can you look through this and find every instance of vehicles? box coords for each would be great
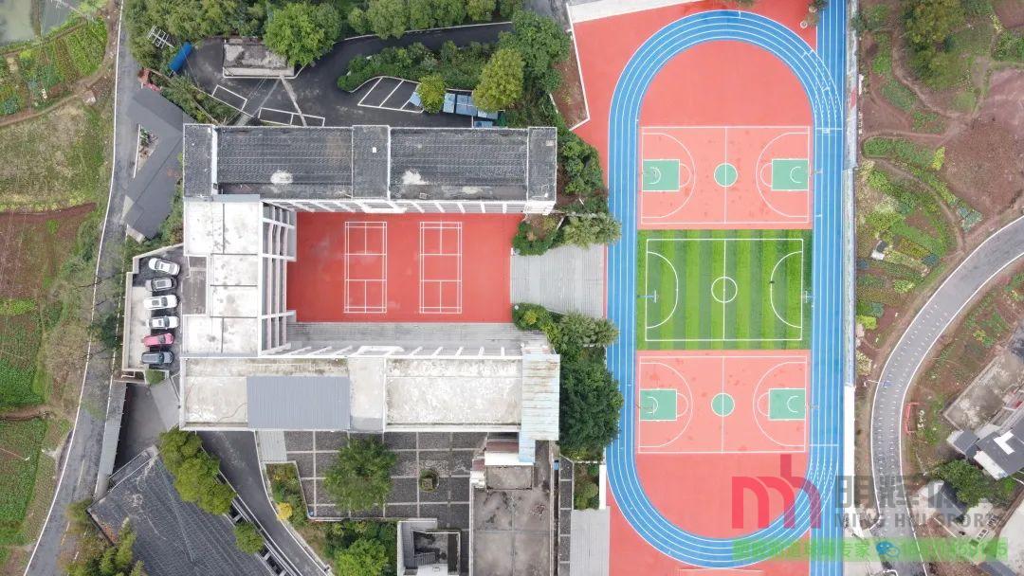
[142,332,175,348]
[143,294,179,310]
[141,350,175,366]
[148,258,182,276]
[146,277,178,292]
[146,315,180,330]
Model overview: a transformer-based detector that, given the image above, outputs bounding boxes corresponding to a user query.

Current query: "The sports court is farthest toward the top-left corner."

[345,222,387,313]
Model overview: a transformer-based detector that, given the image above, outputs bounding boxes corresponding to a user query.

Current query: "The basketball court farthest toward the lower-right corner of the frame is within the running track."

[635,350,811,454]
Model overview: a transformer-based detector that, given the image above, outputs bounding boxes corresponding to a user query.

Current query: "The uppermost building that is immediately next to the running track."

[183,124,556,215]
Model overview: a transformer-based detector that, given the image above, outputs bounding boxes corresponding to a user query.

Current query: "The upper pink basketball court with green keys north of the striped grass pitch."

[637,125,813,230]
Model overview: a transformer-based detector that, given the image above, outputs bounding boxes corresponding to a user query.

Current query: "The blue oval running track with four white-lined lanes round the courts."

[605,10,843,569]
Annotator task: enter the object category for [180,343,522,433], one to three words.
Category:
building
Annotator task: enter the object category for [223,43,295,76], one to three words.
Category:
shed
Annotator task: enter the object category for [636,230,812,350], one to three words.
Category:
soccer field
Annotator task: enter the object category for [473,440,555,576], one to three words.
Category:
building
